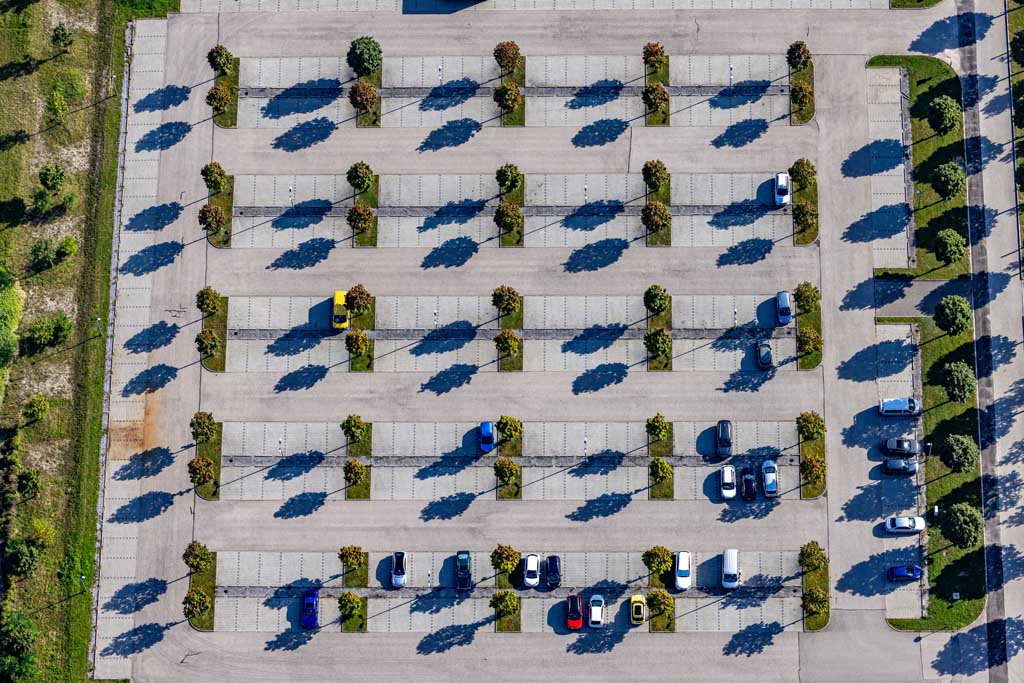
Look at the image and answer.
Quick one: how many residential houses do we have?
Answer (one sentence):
The picture shows no residential houses.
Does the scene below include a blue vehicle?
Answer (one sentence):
Yes, looking at the shot, I can spot a blue vehicle.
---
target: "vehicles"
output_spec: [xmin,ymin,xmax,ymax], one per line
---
[545,556,562,591]
[455,552,472,592]
[774,174,791,206]
[390,552,408,589]
[762,462,780,499]
[720,466,737,500]
[524,555,541,589]
[722,549,739,590]
[301,590,319,630]
[716,421,734,458]
[740,470,757,503]
[588,596,606,630]
[883,459,919,476]
[566,596,583,631]
[479,423,495,454]
[880,397,921,417]
[885,516,925,534]
[776,293,793,325]
[756,342,773,373]
[882,438,918,455]
[630,596,645,627]
[675,552,693,591]
[888,566,921,583]
[331,290,349,330]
